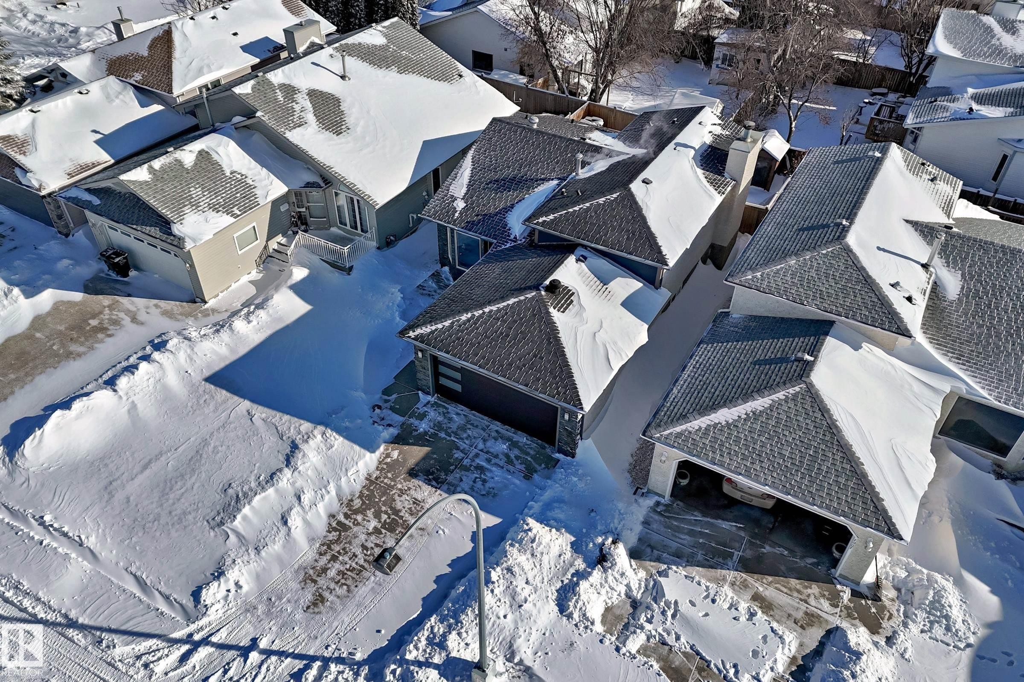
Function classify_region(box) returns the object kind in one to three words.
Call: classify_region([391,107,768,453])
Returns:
house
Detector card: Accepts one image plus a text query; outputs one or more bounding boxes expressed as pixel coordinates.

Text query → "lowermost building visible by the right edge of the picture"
[636,141,1024,578]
